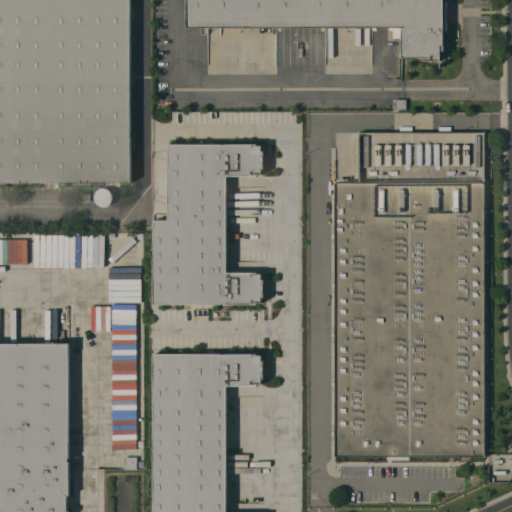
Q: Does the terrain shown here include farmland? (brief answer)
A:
No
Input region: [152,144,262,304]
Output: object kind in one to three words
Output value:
building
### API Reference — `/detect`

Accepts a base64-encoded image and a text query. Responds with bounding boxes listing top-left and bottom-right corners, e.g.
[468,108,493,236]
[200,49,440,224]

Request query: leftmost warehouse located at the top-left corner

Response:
[0,0,134,184]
